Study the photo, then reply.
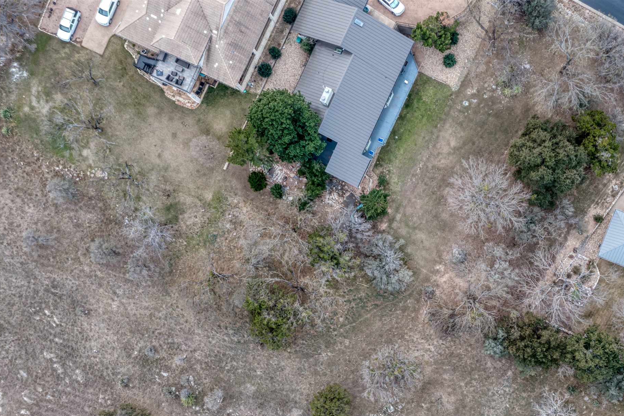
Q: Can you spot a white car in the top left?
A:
Yes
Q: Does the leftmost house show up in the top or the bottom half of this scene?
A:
top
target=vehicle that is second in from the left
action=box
[97,0,120,29]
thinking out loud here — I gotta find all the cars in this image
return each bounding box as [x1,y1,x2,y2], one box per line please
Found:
[97,0,120,29]
[59,6,83,43]
[375,0,405,20]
